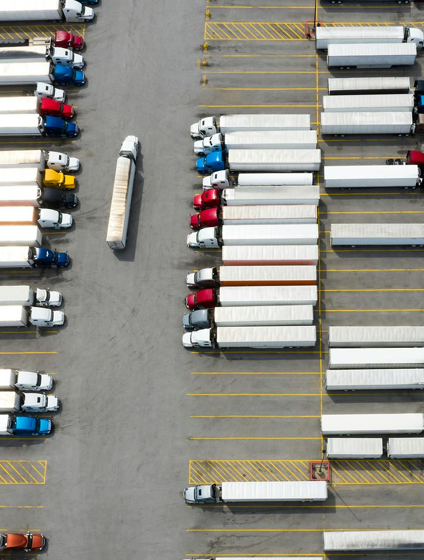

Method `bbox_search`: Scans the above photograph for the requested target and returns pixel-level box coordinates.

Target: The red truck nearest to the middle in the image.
[185,288,220,310]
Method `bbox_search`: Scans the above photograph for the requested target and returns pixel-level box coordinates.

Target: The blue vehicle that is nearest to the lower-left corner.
[1,416,52,435]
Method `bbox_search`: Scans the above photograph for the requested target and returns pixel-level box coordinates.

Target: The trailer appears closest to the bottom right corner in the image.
[321,531,424,552]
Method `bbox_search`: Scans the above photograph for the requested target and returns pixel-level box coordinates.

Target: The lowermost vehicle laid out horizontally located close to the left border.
[3,532,46,553]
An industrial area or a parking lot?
parking lot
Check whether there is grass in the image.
No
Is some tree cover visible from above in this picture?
No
